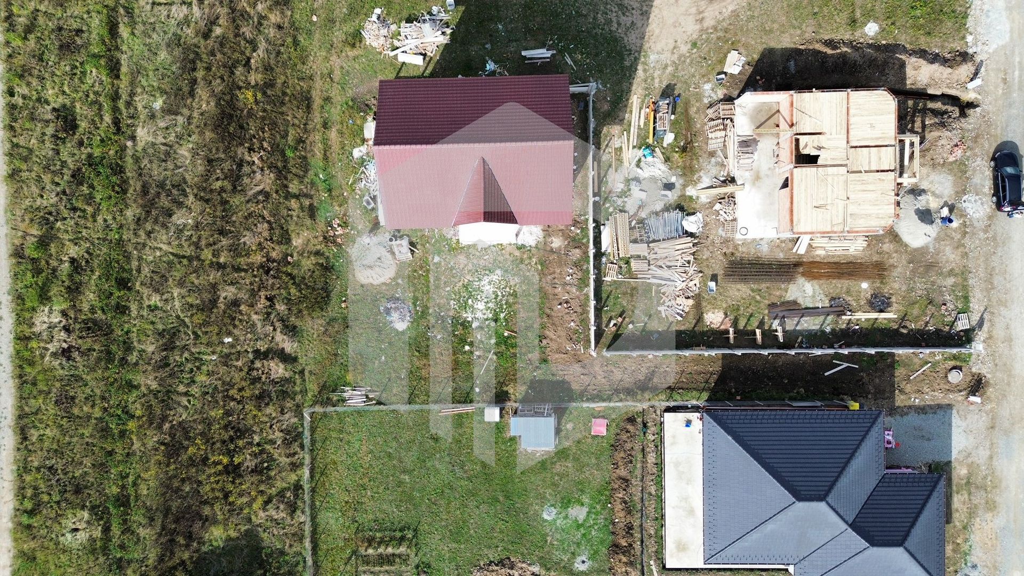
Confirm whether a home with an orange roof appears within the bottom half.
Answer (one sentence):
No, I can find no home with an orange roof within the bottom half.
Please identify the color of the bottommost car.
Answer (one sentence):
The bottommost car is black.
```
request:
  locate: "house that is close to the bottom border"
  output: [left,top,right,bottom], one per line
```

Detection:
[663,406,947,576]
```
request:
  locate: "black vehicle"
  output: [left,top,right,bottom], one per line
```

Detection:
[986,150,1024,213]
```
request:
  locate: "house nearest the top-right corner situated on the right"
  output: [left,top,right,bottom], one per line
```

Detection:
[734,85,920,239]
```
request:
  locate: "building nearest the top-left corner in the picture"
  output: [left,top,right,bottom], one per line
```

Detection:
[372,74,574,246]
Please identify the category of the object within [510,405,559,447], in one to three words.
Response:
shed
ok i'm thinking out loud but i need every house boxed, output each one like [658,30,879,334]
[372,74,574,246]
[734,85,920,239]
[663,406,947,576]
